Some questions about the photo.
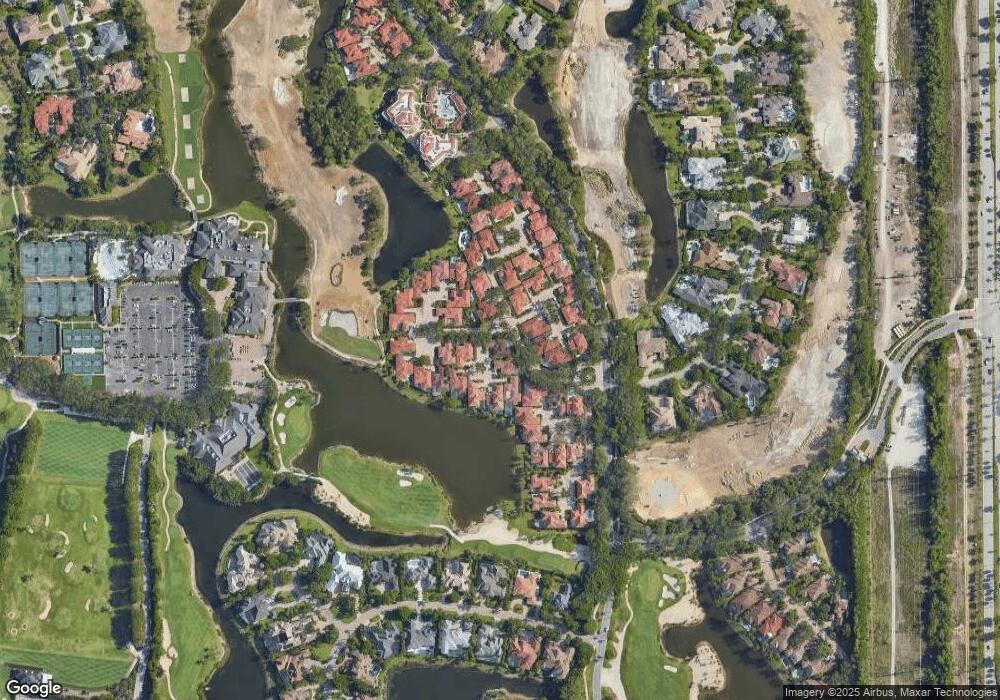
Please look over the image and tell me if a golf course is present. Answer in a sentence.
Yes, a golf course can be made out from above.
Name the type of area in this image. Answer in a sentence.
This image shows a residential area.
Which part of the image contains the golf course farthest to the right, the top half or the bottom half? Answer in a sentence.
It is in the bottom half that the golf course farthest to the right appears.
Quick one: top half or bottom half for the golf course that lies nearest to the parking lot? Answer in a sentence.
It is in the bottom half that the golf course that lies nearest to the parking lot appears.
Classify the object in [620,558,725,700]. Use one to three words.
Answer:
golf course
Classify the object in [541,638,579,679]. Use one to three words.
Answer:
house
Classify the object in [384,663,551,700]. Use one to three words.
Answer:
pond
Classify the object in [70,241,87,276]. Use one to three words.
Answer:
tennis court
